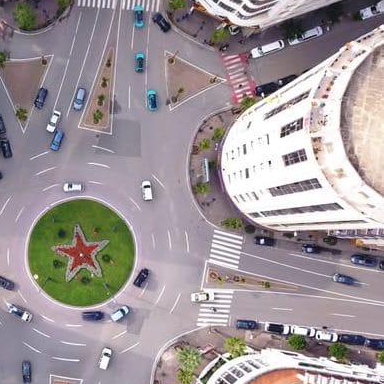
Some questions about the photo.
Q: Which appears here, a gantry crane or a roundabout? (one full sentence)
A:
Looking from above, you can make out a roundabout.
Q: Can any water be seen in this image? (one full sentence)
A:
No, there's no water in this view.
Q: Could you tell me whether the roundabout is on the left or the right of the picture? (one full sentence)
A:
The roundabout is on the left side of the image.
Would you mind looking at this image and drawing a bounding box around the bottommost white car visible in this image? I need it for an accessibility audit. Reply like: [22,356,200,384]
[98,346,112,370]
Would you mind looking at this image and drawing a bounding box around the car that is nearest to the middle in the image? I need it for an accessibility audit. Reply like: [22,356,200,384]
[140,180,153,202]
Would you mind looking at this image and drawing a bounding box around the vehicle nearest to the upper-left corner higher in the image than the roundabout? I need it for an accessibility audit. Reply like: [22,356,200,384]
[33,87,49,109]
